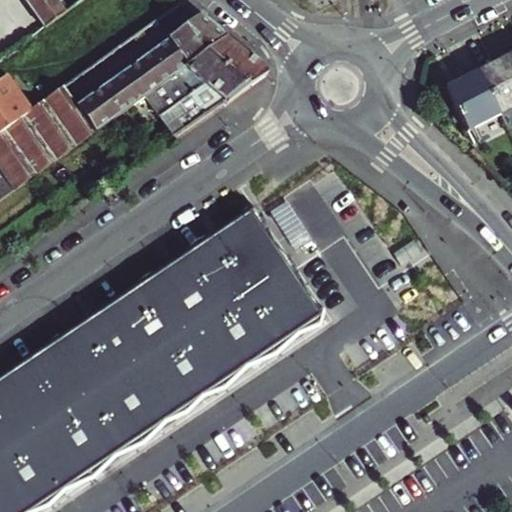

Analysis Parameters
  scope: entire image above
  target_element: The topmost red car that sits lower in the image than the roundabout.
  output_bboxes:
[340,205,358,220]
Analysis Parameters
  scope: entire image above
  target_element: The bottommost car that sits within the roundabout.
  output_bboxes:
[311,96,326,116]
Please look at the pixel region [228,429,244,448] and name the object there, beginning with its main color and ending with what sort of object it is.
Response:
white car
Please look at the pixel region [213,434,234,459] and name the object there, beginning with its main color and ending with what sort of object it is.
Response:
white vehicle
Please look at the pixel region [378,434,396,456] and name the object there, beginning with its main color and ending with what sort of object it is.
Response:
white car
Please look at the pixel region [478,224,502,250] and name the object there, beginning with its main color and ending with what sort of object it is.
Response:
white vehicle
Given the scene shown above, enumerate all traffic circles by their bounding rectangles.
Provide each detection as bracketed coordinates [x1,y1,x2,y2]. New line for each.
[280,25,400,145]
